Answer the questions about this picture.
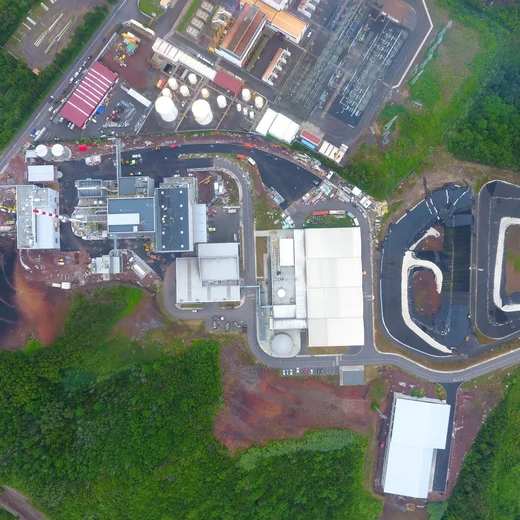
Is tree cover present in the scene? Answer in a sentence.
Yes, the picture does contain tree cover.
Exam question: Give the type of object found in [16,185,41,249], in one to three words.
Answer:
building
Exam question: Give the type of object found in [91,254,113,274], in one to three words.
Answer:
house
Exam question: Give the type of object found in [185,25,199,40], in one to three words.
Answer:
cooling tower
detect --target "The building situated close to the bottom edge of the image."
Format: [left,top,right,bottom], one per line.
[381,395,451,499]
